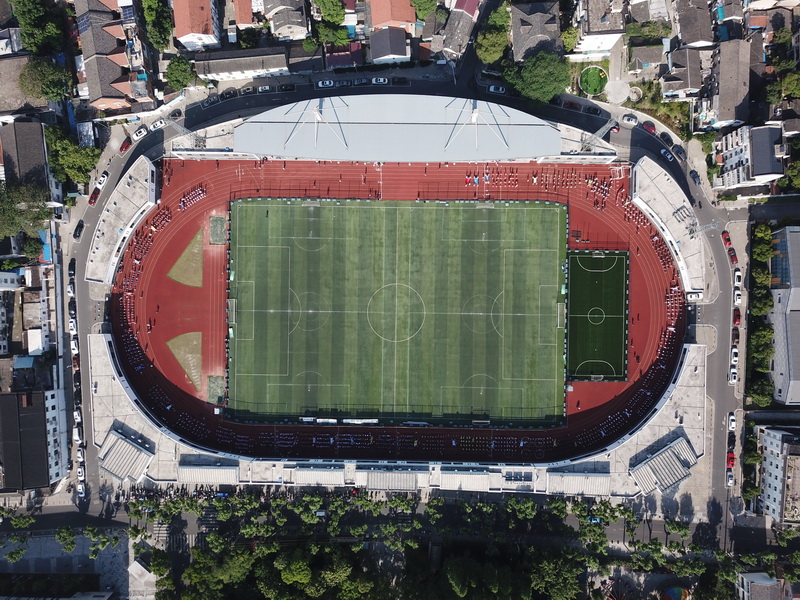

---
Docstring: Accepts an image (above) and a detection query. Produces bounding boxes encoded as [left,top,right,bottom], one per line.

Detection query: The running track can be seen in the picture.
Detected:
[107,156,689,463]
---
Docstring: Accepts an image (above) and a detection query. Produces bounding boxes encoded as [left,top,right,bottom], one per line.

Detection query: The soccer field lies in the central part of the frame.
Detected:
[227,198,567,427]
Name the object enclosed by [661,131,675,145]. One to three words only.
vehicle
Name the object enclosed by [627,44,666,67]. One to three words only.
house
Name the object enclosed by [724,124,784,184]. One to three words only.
building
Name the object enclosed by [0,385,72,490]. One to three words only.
building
